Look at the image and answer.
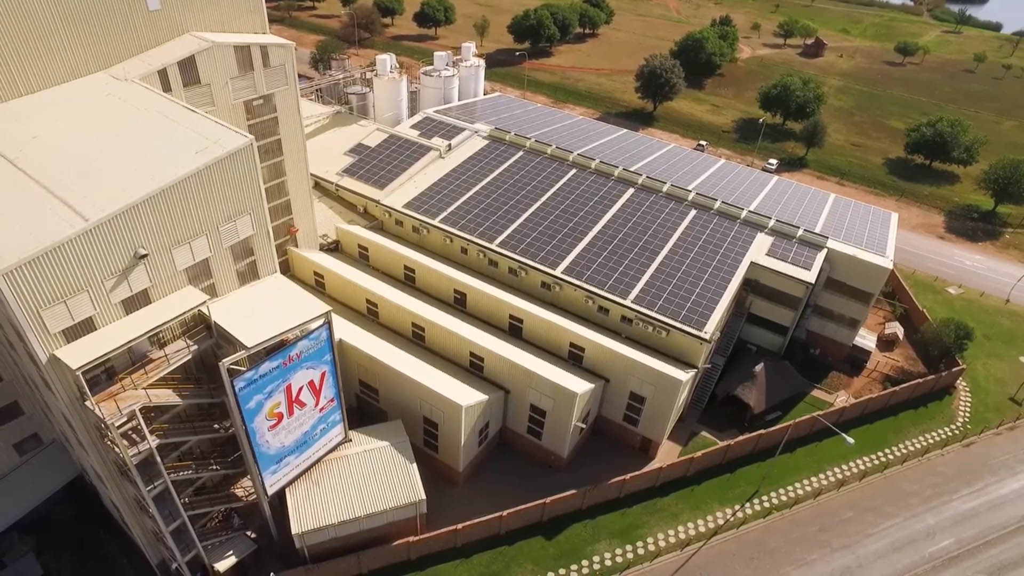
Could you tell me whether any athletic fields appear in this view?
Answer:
No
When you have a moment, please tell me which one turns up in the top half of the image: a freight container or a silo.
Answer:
silo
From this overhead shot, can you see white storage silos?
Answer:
Yes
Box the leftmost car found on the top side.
[696,138,712,151]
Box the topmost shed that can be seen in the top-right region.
[804,31,831,56]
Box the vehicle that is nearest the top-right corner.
[765,156,782,172]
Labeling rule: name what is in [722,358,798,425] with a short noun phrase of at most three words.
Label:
shed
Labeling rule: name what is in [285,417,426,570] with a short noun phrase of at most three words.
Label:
shed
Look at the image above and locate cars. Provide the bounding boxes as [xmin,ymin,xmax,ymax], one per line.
[765,156,782,172]
[696,138,712,151]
